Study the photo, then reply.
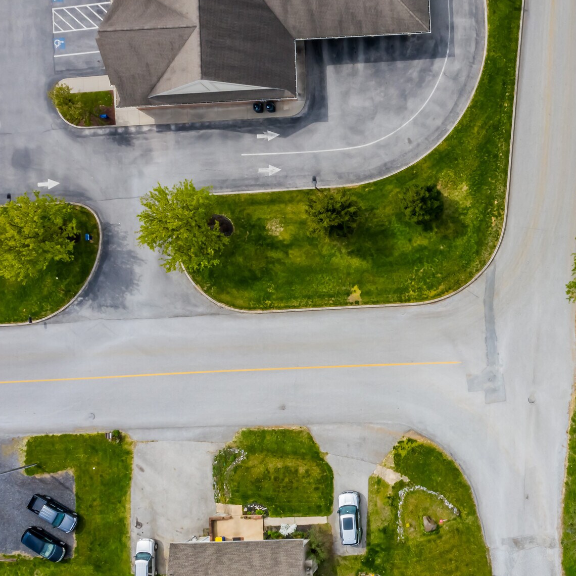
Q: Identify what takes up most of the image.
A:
paved ground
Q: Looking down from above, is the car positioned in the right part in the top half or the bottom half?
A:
bottom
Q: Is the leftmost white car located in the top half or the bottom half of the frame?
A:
bottom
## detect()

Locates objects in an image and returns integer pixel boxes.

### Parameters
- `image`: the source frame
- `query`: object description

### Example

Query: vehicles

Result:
[133,537,161,576]
[19,523,69,561]
[337,492,362,545]
[25,491,81,532]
